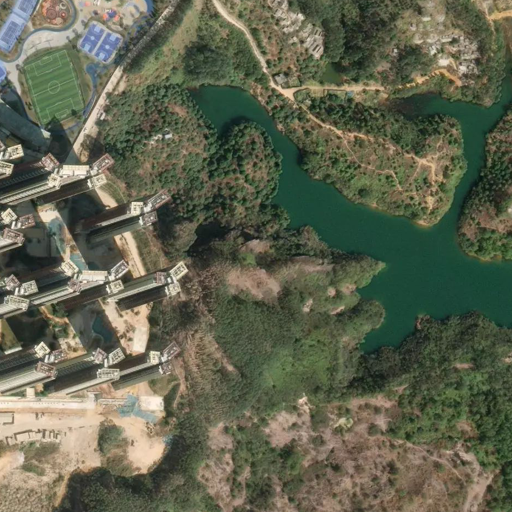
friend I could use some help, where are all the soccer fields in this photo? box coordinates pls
[22,46,86,128]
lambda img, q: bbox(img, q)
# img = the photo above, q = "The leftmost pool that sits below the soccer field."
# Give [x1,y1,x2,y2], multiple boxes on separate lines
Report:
[48,218,64,254]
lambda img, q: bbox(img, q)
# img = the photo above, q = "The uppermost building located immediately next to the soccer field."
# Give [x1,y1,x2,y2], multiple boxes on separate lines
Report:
[0,100,50,158]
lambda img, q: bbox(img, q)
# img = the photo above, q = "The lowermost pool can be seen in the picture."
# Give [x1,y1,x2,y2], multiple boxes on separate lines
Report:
[92,314,113,344]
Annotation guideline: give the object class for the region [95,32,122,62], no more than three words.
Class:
basketball court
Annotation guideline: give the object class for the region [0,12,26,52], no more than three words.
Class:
tennis court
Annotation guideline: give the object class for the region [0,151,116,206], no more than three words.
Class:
building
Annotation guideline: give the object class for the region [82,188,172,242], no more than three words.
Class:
building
